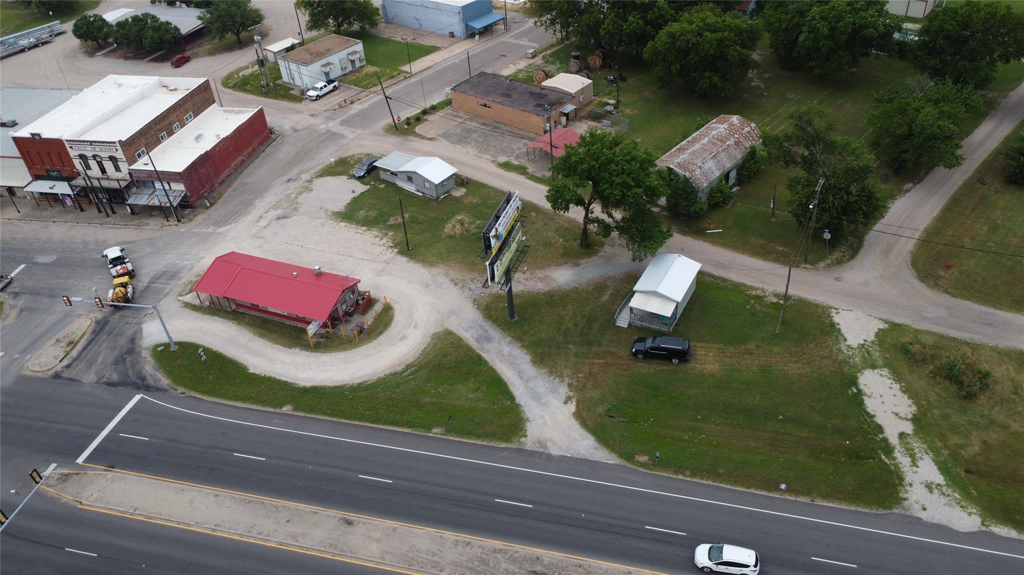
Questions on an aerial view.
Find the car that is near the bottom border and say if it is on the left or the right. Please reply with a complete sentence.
The car that is near the bottom border sits on the right side.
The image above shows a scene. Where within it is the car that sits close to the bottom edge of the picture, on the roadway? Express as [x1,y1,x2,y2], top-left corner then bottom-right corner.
[694,544,760,575]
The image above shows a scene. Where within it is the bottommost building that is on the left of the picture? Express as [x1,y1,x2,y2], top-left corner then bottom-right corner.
[194,250,361,333]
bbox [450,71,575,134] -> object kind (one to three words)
building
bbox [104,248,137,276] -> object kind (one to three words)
truck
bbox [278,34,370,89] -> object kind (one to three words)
building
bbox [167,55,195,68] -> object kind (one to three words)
vehicle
